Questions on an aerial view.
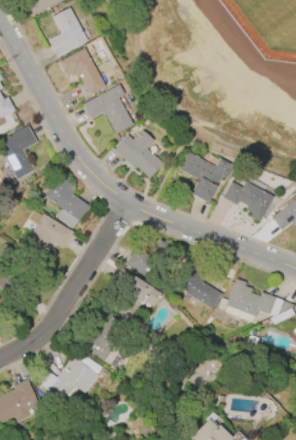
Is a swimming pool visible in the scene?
Yes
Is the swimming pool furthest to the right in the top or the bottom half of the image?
bottom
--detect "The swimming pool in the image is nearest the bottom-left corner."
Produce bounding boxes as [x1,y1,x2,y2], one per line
[110,403,128,422]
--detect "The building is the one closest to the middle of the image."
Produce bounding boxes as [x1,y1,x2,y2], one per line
[128,254,151,274]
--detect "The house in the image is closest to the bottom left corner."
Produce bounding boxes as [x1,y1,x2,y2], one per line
[0,382,37,420]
